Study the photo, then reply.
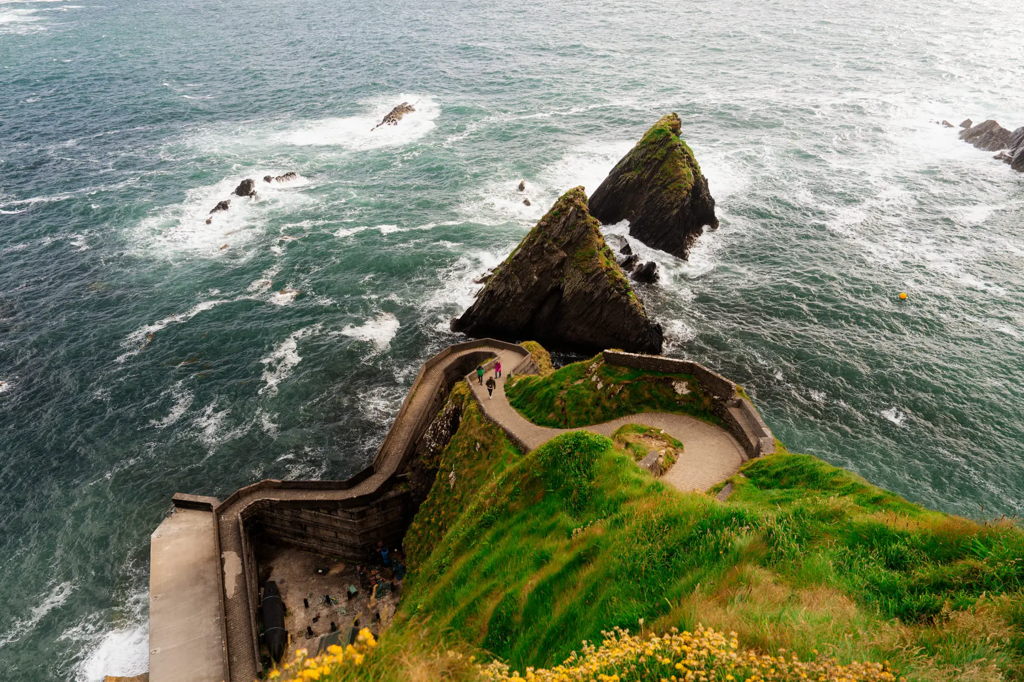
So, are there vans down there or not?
No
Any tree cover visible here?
No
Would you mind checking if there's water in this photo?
Yes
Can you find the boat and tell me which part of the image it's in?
bottom left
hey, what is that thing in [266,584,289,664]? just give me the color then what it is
black boat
